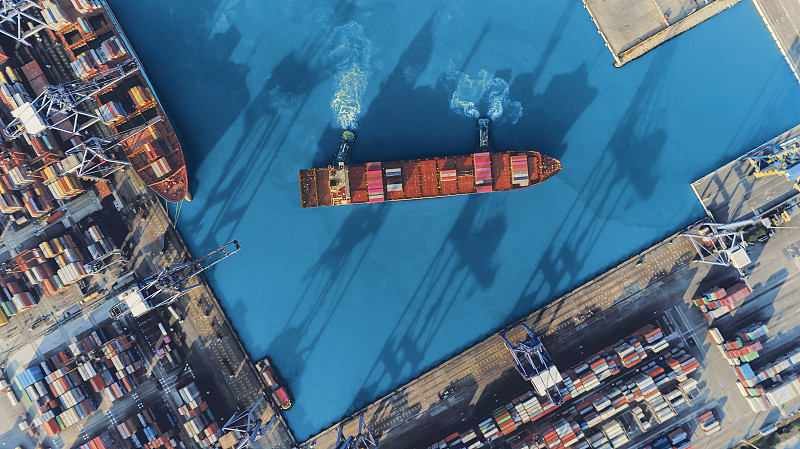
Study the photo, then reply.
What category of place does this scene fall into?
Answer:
port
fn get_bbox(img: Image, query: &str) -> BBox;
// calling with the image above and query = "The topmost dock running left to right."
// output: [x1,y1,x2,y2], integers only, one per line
[583,0,712,57]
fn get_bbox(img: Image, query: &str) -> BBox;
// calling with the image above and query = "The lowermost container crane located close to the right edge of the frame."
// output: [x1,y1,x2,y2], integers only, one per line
[677,210,773,280]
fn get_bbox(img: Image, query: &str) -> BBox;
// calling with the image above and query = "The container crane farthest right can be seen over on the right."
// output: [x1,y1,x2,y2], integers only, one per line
[743,138,800,187]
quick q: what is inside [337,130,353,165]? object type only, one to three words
boat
